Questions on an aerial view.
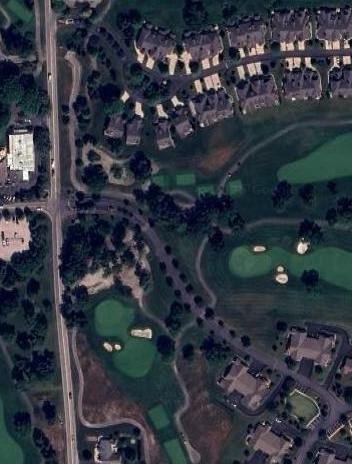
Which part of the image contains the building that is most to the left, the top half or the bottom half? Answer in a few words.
top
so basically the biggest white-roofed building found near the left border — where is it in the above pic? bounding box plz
[6,129,34,181]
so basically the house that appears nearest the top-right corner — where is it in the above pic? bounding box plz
[314,7,352,40]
